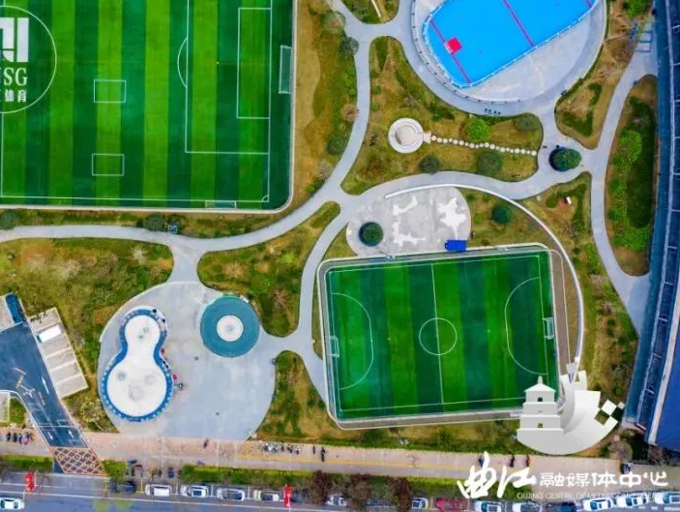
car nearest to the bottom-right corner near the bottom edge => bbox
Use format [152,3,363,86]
[652,490,680,507]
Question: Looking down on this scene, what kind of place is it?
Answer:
sports ground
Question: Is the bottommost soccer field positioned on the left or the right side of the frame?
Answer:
right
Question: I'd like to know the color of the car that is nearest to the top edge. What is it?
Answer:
blue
